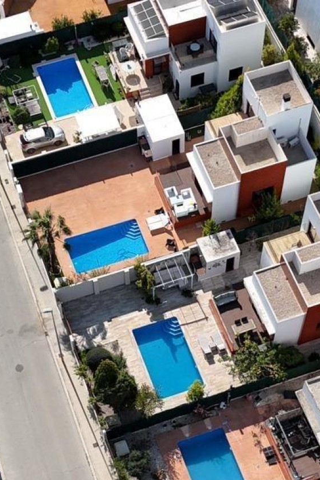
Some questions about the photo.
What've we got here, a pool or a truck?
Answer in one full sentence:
This aerial view contains a pool.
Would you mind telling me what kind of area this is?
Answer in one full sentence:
The picture captures a residential area.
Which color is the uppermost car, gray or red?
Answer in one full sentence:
The color of the uppermost car is gray.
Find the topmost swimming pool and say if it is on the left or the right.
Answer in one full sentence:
The topmost swimming pool sits on the left side.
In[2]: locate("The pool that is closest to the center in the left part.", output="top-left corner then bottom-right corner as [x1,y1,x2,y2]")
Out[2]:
[64,217,150,274]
